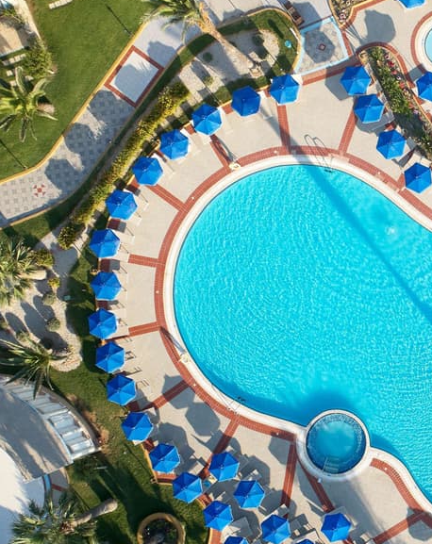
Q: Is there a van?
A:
No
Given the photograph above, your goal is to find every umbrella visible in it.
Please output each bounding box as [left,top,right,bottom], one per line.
[262,510,291,544]
[377,131,408,162]
[223,534,250,544]
[206,497,235,531]
[191,103,224,135]
[90,307,121,339]
[123,408,154,443]
[209,450,242,482]
[135,155,164,187]
[231,87,263,119]
[402,161,432,196]
[397,0,425,11]
[419,71,432,102]
[107,371,139,404]
[234,476,265,510]
[107,187,139,222]
[355,92,386,127]
[163,130,194,162]
[96,340,129,375]
[323,509,353,542]
[152,440,183,472]
[175,470,205,502]
[92,268,126,302]
[270,73,300,107]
